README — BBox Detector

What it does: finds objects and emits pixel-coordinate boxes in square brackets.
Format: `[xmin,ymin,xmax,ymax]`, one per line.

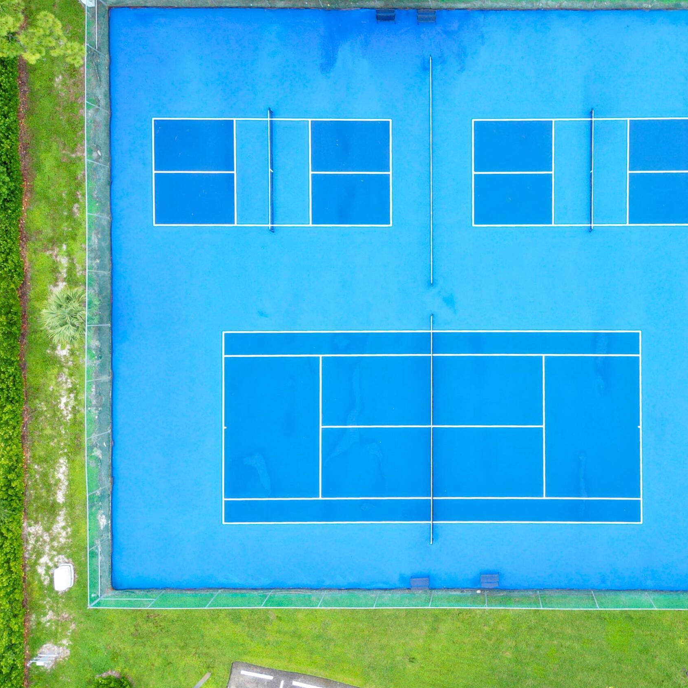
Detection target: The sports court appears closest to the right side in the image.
[471,117,688,226]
